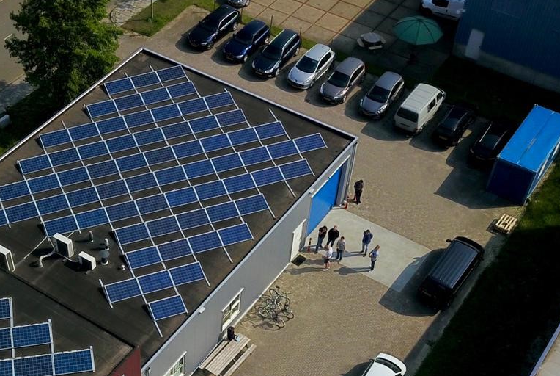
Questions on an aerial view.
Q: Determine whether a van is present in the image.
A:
Yes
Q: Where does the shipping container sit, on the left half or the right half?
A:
right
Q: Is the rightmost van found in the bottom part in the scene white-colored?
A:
No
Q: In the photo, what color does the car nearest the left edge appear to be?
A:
black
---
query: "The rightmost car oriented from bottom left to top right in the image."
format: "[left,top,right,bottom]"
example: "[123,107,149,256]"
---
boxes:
[473,113,522,167]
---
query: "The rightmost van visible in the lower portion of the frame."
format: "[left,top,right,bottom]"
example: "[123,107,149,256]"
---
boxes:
[418,233,487,304]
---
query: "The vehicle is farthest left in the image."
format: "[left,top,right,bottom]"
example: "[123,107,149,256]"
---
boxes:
[186,6,237,52]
